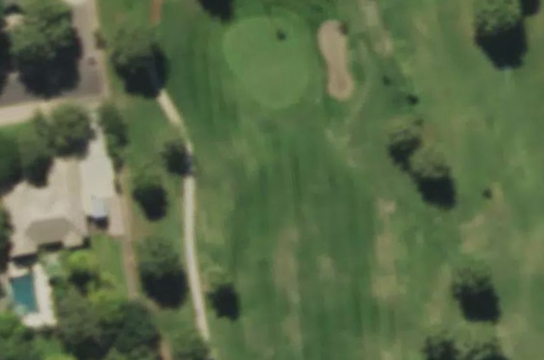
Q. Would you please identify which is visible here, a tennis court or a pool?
pool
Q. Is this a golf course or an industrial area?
golf course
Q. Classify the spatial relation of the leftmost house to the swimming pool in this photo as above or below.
above it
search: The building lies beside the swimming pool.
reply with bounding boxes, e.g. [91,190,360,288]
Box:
[2,156,88,258]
